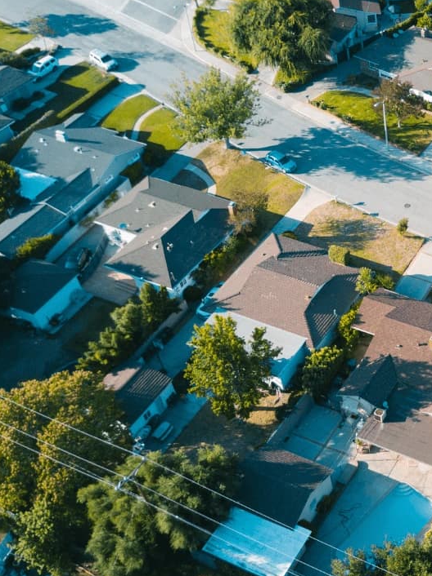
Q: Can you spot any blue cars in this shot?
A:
Yes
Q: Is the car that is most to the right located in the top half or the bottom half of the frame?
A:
top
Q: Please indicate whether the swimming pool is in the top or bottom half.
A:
bottom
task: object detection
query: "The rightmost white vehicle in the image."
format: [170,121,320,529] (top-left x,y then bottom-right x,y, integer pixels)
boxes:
[85,46,120,69]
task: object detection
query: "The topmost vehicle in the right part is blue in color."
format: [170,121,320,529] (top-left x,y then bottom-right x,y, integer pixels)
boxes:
[263,149,299,172]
